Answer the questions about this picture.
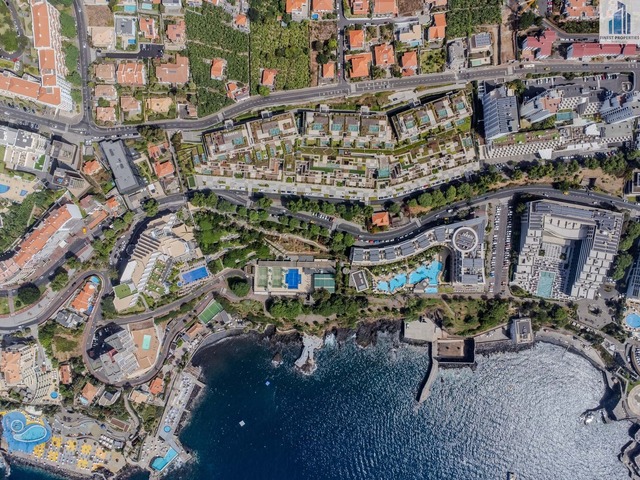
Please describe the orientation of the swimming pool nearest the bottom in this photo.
diagonally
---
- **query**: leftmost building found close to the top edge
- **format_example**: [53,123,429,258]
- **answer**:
[0,0,76,115]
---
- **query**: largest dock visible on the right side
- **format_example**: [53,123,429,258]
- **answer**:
[416,359,438,401]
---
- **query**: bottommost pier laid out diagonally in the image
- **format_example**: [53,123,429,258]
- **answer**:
[170,434,193,462]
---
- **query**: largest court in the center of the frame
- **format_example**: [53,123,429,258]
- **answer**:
[254,266,311,292]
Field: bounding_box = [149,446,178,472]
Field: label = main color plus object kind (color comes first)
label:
blue swimming pool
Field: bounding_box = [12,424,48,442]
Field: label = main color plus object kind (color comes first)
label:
blue swimming pool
